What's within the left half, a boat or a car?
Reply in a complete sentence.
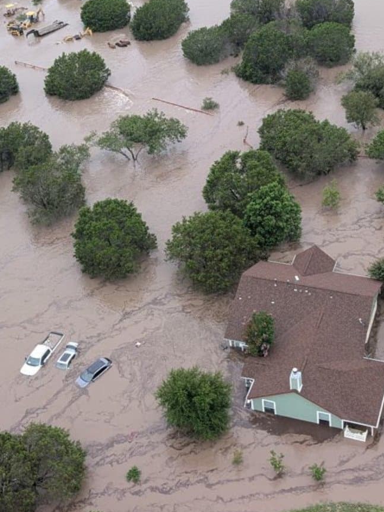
You can see a car within the left half.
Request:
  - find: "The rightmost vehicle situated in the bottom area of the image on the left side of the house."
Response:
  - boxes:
[73,356,118,392]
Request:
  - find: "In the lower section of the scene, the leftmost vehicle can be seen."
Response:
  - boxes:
[16,332,66,378]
